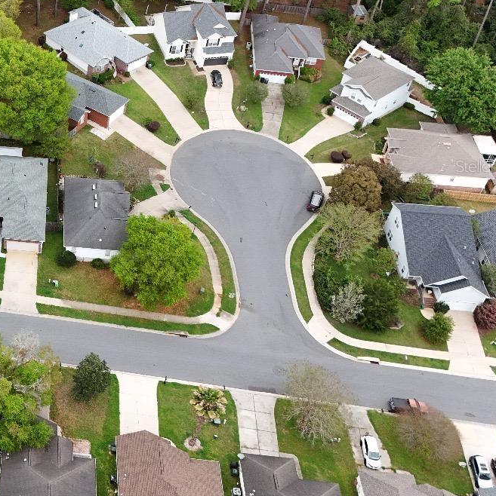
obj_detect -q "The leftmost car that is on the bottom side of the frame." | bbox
[361,432,384,468]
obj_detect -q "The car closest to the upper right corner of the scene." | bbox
[309,190,325,210]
